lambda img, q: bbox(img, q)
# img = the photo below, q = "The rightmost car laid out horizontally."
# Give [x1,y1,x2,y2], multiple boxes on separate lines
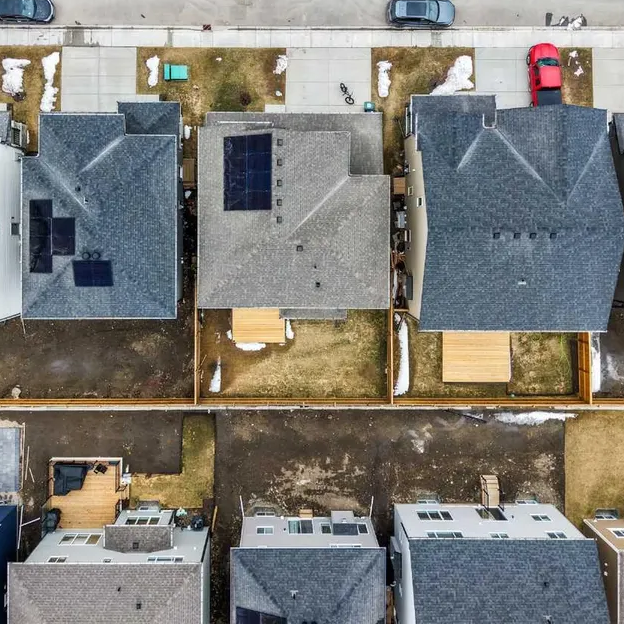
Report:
[387,0,456,29]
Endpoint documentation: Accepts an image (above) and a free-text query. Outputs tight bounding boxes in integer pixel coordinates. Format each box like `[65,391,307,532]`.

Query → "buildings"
[390,499,611,624]
[6,502,210,624]
[20,101,186,320]
[404,94,624,333]
[197,111,391,323]
[228,496,388,624]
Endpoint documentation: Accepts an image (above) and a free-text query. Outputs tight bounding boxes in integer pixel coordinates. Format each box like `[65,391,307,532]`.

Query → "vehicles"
[387,0,456,29]
[0,0,56,25]
[527,41,566,106]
